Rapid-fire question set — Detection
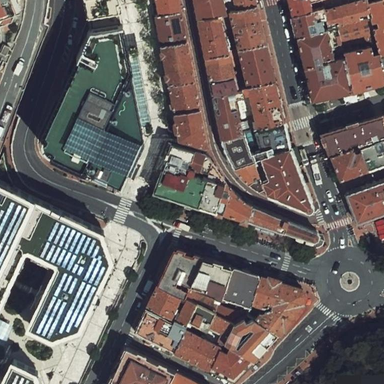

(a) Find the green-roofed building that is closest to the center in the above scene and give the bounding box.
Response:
[152,158,204,208]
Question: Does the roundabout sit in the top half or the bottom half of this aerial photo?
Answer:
bottom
